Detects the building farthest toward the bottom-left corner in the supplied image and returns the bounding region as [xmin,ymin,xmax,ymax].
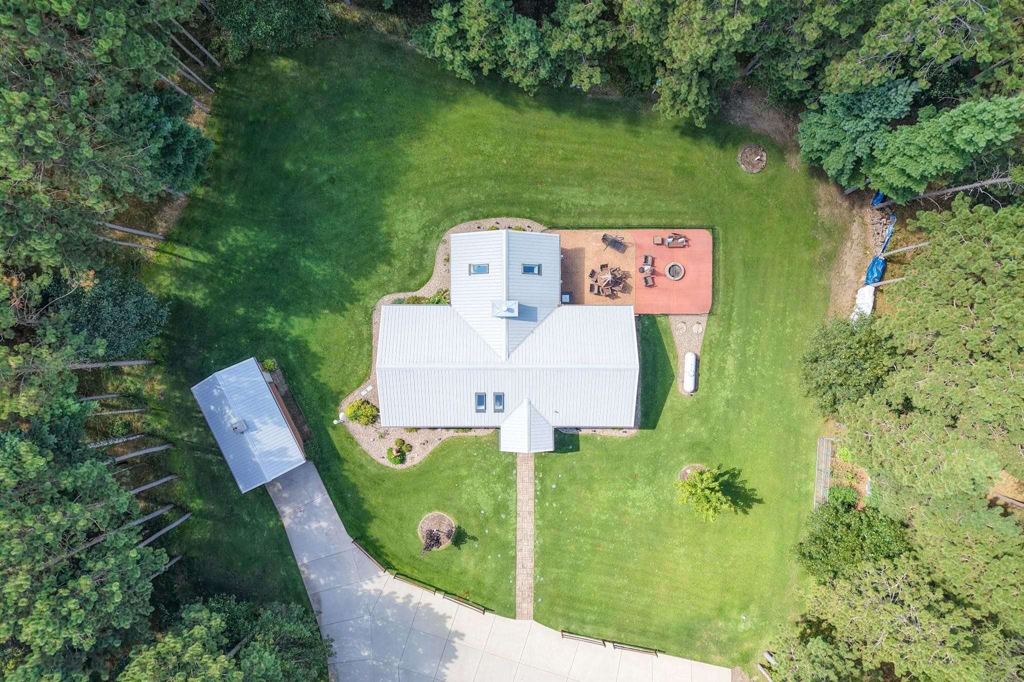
[190,357,308,494]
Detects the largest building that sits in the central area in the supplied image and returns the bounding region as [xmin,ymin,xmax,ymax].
[375,229,640,454]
